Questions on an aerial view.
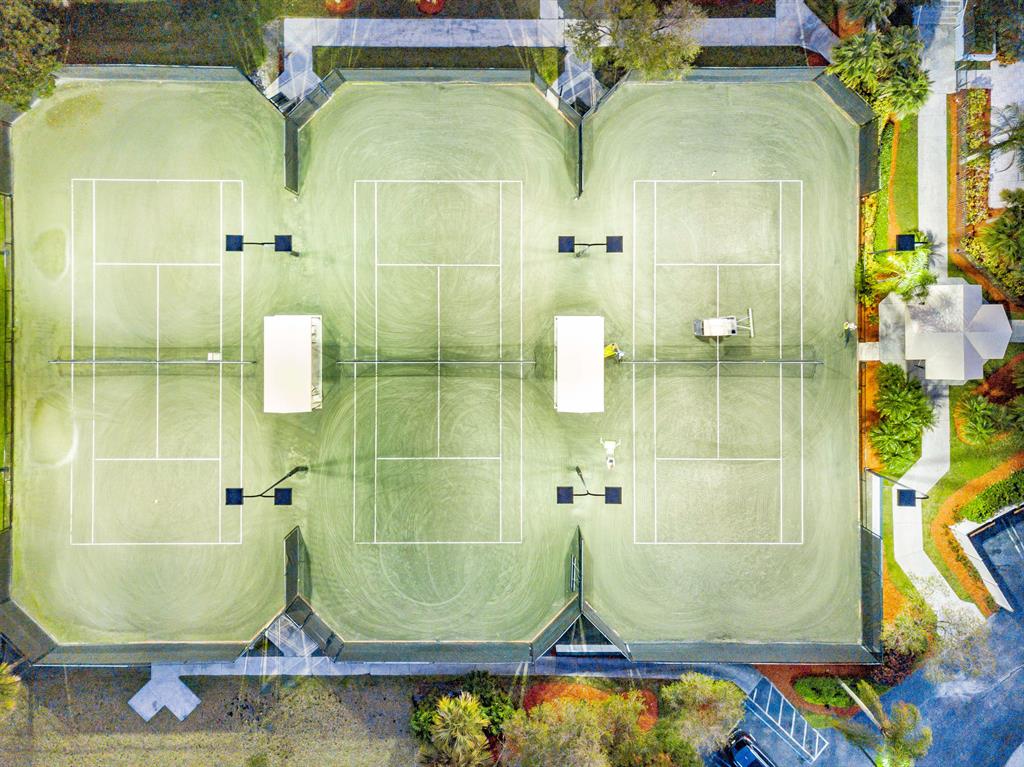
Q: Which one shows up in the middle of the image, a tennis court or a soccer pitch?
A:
tennis court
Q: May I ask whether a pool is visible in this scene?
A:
No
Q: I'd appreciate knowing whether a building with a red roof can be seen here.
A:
No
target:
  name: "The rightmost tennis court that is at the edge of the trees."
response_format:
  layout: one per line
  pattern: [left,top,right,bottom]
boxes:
[580,82,862,643]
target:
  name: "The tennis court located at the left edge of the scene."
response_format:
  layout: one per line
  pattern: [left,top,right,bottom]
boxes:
[9,81,302,644]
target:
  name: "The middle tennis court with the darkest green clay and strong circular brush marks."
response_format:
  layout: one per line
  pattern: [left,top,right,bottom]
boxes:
[302,84,580,642]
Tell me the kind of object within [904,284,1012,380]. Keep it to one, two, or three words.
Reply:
building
